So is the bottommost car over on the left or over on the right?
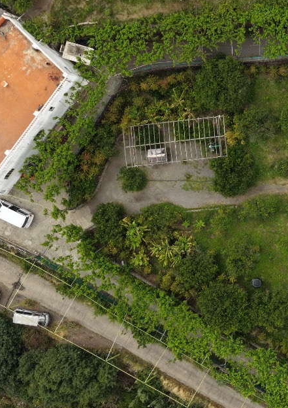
left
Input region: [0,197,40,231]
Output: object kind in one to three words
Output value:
car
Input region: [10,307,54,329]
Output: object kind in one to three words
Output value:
car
